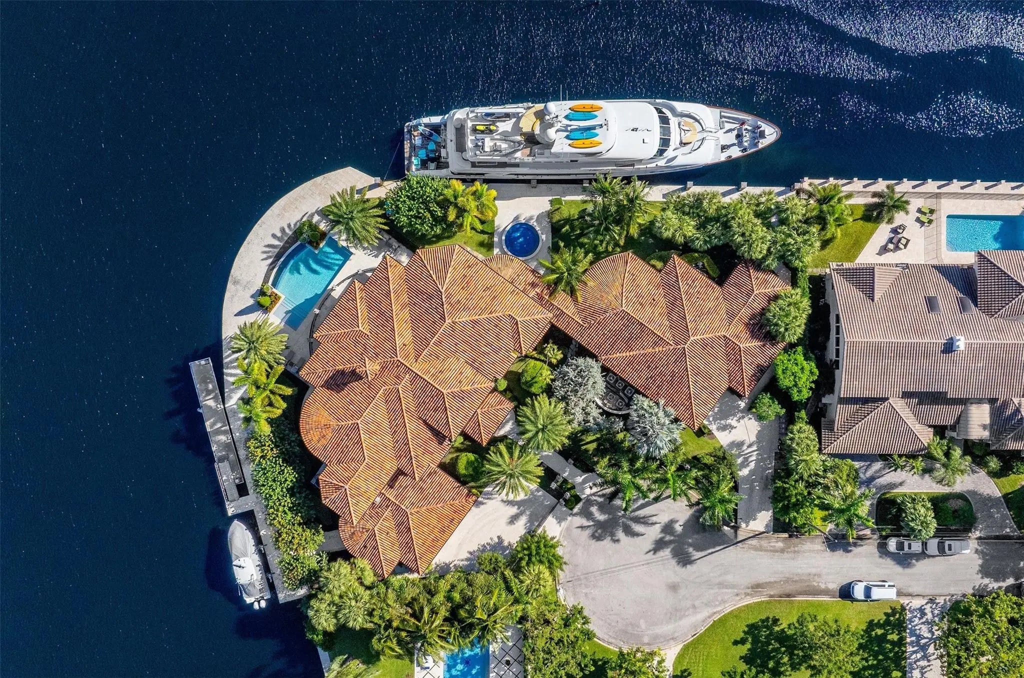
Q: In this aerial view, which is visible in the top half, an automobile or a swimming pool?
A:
swimming pool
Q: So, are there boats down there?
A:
Yes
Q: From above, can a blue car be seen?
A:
No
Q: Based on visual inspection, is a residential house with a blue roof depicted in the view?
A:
No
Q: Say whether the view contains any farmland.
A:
No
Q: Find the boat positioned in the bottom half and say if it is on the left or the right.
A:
left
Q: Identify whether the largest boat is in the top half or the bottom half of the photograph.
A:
top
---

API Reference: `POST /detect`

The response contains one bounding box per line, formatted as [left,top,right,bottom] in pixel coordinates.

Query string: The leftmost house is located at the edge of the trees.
[298,245,554,576]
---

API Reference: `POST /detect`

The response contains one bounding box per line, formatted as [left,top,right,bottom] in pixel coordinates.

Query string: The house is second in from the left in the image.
[485,252,792,431]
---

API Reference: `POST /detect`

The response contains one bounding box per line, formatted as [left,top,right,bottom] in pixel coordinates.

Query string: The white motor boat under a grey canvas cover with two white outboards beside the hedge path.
[230,521,272,610]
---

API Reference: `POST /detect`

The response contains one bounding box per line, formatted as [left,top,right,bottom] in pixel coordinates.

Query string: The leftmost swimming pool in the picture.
[267,237,352,330]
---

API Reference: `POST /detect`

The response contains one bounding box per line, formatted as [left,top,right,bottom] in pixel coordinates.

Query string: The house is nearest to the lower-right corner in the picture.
[816,250,1024,453]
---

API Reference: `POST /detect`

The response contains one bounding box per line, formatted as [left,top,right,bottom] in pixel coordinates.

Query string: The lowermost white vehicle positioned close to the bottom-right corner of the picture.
[850,580,897,602]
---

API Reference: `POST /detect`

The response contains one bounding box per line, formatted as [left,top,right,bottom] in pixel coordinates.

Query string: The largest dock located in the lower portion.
[188,356,244,489]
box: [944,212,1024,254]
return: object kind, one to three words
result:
swimming pool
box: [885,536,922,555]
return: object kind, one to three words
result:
car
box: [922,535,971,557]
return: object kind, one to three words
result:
car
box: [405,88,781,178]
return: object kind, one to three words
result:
boat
